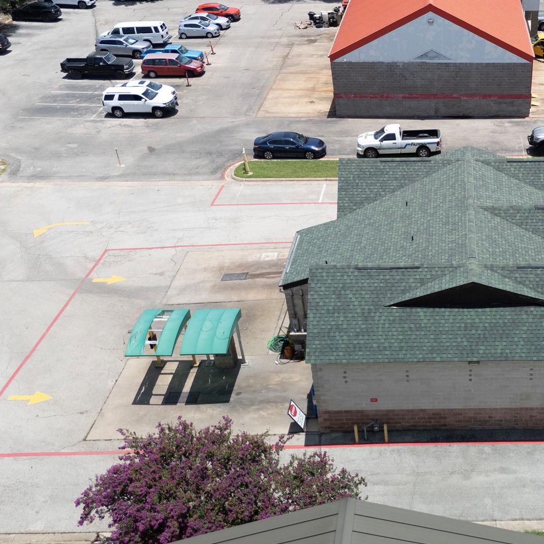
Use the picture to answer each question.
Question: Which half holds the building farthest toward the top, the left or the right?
right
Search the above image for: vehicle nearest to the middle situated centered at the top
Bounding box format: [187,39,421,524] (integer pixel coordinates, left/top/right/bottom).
[249,129,327,158]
